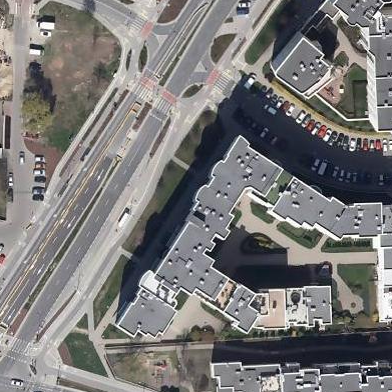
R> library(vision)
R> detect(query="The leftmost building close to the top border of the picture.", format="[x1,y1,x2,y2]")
[271,0,338,98]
